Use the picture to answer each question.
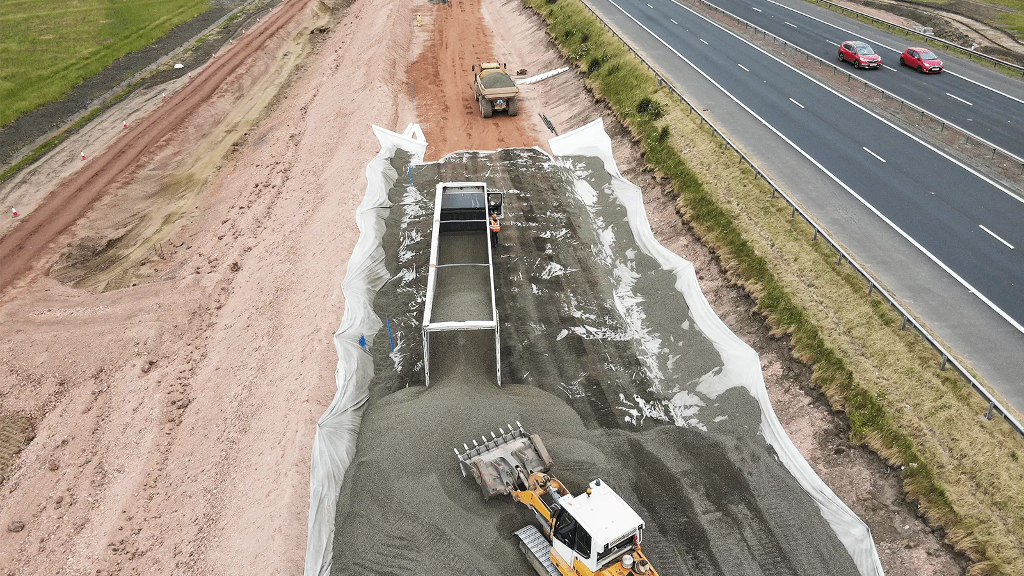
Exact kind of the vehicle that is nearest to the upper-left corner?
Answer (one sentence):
The vehicle that is nearest to the upper-left corner appears to be a truck.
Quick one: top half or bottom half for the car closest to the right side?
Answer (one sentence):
It is in the top half that the car closest to the right side appears.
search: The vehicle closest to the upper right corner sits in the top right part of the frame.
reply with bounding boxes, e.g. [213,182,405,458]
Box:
[898,44,949,73]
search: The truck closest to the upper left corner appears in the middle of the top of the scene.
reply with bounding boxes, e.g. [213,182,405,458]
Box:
[468,55,519,116]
